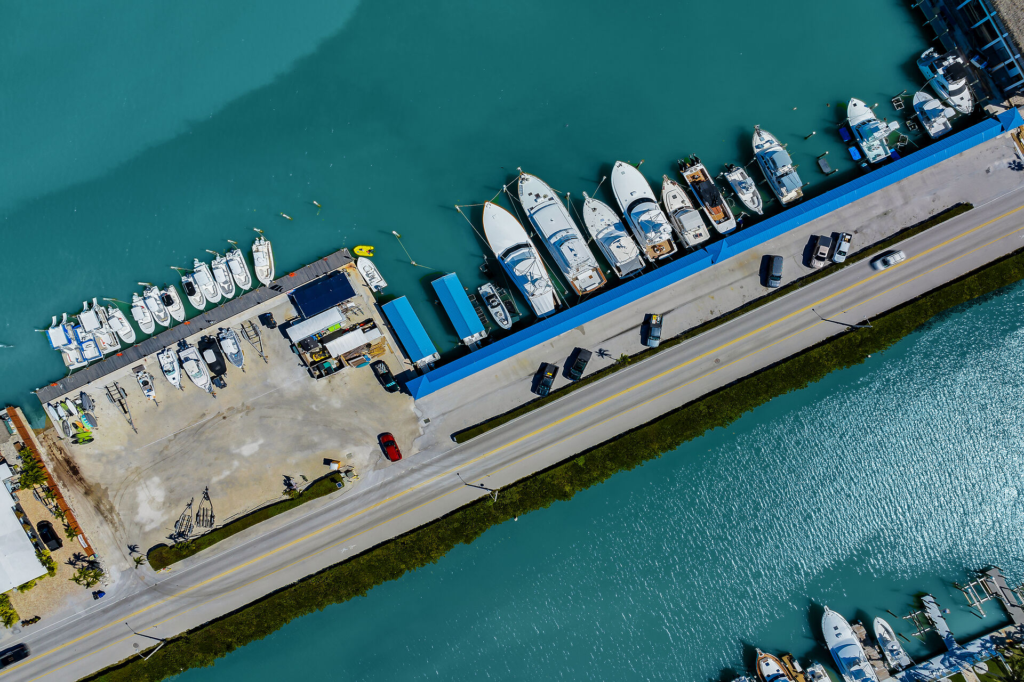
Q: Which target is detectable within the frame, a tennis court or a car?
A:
car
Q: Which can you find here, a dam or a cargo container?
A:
cargo container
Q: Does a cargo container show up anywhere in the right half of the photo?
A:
No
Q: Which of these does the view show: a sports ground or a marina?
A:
marina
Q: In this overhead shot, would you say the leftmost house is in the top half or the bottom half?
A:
bottom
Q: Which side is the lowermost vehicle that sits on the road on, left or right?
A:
left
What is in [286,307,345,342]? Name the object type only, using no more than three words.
shipping container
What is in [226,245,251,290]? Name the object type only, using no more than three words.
boat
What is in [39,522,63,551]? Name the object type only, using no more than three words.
truck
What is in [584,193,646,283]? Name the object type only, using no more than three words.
boat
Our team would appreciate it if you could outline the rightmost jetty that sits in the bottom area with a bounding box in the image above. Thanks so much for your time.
[978,562,1024,622]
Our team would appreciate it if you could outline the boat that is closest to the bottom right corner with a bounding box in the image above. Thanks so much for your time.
[874,618,913,675]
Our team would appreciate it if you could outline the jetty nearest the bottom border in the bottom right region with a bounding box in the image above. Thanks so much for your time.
[851,624,889,681]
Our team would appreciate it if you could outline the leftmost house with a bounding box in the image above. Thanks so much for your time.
[0,459,56,594]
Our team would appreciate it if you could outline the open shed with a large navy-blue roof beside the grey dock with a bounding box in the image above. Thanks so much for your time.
[294,272,357,318]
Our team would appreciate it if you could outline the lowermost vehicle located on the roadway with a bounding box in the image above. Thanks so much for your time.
[0,644,30,668]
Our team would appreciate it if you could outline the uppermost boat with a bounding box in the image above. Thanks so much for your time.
[914,48,974,114]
